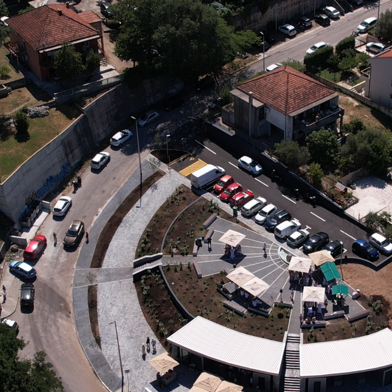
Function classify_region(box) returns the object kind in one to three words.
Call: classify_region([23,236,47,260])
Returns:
car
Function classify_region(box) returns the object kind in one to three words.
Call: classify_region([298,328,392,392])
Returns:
building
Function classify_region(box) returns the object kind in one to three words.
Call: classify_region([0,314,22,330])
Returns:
car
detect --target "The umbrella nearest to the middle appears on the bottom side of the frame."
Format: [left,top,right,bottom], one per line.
[219,230,247,252]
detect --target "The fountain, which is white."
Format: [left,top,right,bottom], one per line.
[277,244,302,264]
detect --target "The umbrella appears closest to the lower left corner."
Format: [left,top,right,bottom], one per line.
[149,352,179,378]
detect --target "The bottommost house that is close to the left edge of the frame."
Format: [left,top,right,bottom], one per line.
[4,1,101,81]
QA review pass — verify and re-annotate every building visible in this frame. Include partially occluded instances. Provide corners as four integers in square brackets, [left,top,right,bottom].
[166,316,285,392]
[230,64,330,135]
[298,328,392,392]
[4,1,101,81]
[368,45,392,107]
